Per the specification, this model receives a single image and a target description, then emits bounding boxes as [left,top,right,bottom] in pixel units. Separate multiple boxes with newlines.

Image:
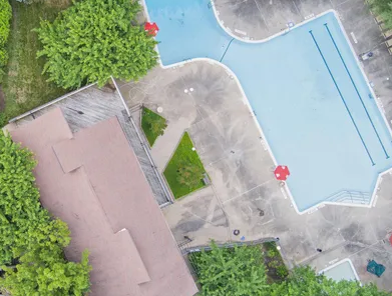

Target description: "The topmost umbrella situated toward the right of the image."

[269,165,288,180]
